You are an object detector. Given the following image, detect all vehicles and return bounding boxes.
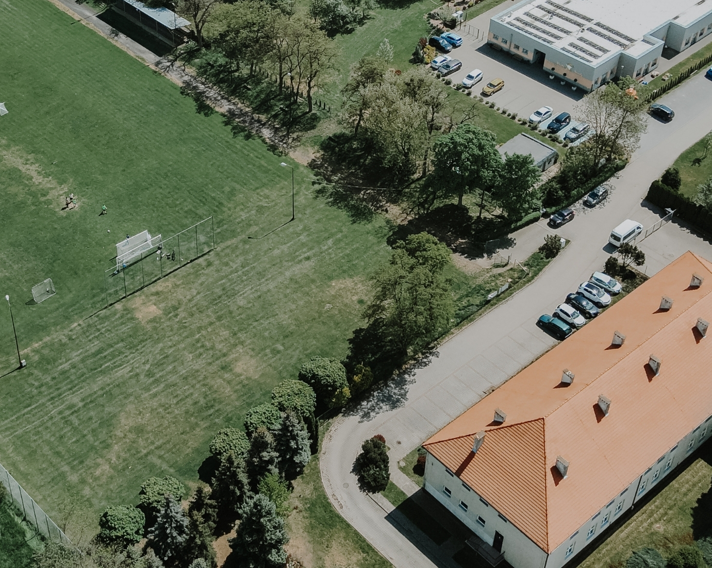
[460,68,485,87]
[608,217,644,243]
[646,103,679,122]
[427,33,455,52]
[546,110,573,132]
[480,76,507,97]
[527,106,556,125]
[536,315,574,338]
[546,204,580,227]
[436,57,464,77]
[441,31,466,48]
[427,54,455,69]
[581,183,612,206]
[563,122,590,142]
[564,293,601,318]
[587,270,625,295]
[551,302,587,327]
[577,279,613,307]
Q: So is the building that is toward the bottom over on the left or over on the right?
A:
right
